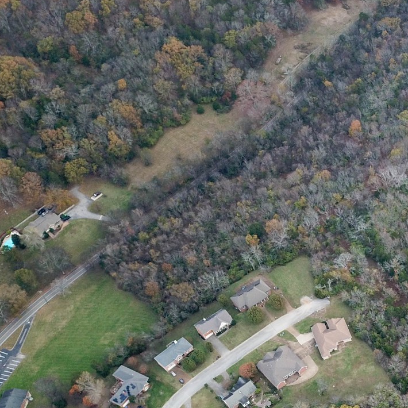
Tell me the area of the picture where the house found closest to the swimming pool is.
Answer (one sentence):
Look in the left portion of the view to spot the house found closest to the swimming pool.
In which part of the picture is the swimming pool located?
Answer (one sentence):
Look in the left portion of the view to spot the swimming pool.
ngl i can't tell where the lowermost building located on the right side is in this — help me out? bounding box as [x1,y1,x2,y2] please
[222,376,272,408]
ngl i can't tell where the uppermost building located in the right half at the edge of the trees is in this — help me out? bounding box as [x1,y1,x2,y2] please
[231,279,270,311]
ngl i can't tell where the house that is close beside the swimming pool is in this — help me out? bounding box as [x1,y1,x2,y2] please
[24,213,60,240]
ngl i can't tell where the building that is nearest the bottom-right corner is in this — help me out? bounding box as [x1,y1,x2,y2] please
[311,318,352,355]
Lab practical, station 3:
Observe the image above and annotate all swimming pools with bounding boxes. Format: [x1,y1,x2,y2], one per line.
[0,231,21,253]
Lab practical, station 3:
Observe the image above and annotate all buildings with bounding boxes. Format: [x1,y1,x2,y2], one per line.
[194,309,231,340]
[154,337,195,372]
[311,318,352,355]
[257,346,309,388]
[24,213,60,240]
[222,376,272,408]
[110,365,149,408]
[231,279,270,311]
[0,387,32,408]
